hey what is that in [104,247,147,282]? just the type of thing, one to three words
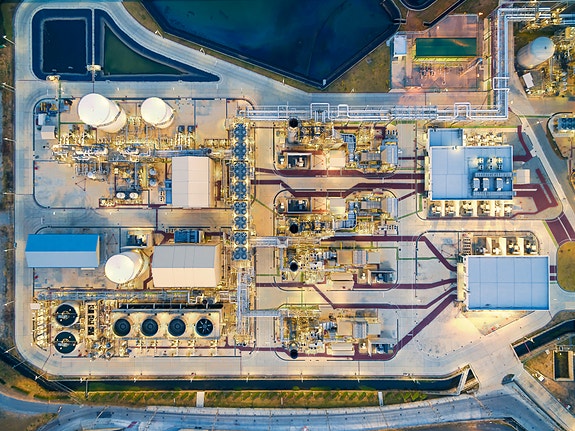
storage tank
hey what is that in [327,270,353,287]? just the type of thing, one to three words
shed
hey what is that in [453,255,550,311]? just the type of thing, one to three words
building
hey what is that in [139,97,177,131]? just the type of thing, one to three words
storage tank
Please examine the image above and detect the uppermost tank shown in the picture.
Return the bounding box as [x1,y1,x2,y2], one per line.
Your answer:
[514,36,556,72]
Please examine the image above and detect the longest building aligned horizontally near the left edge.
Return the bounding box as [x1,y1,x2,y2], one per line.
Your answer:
[21,233,103,267]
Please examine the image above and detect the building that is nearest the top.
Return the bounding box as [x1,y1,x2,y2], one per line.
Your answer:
[393,35,407,60]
